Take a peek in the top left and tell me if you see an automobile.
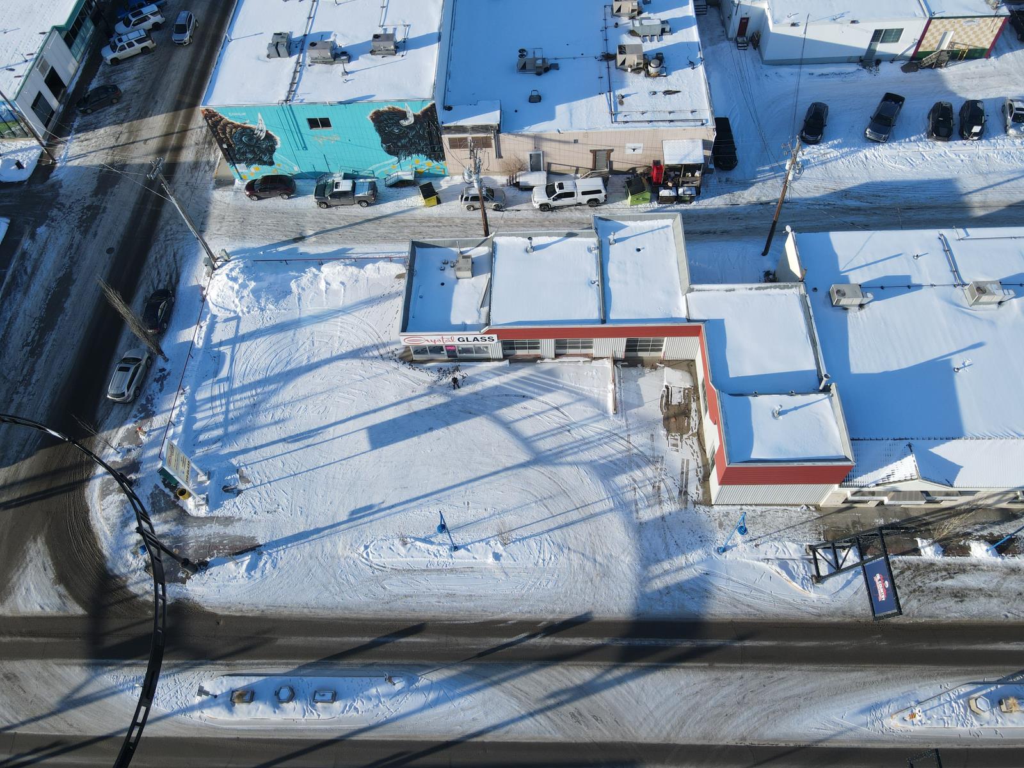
Yes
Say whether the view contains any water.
No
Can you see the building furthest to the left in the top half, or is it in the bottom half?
top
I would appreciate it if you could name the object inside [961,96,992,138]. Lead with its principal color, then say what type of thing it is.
black car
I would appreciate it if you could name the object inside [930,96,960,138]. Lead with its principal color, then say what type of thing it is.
black car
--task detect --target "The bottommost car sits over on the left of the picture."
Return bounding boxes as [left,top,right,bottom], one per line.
[105,346,150,402]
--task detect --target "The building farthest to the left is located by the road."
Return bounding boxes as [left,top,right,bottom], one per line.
[0,0,114,144]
